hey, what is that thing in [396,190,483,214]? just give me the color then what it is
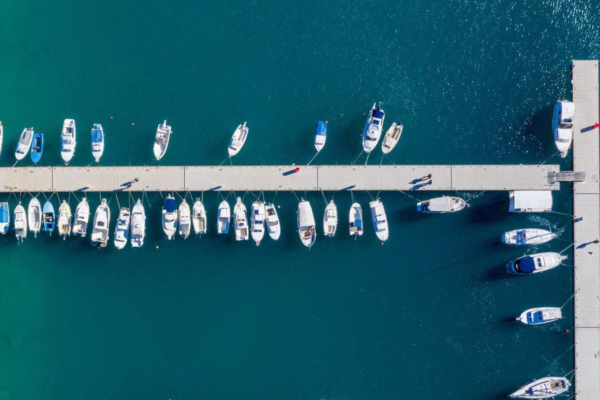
white boat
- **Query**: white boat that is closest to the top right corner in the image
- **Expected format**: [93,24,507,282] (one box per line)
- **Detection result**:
[544,98,577,165]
